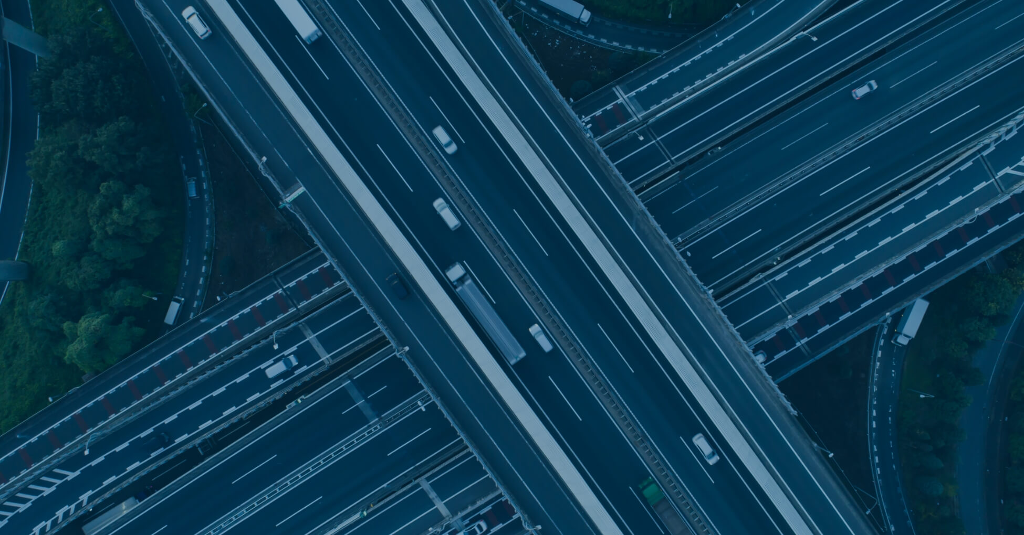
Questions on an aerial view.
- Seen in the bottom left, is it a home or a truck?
truck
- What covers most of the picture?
paved ground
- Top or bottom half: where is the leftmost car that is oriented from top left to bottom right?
top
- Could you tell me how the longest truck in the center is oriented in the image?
diagonally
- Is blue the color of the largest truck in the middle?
Yes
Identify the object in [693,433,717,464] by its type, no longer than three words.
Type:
car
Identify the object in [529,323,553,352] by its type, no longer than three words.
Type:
car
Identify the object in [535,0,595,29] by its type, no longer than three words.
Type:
truck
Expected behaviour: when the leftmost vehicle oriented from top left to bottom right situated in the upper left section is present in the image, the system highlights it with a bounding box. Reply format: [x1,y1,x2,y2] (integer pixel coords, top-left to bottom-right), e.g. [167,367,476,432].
[184,8,212,40]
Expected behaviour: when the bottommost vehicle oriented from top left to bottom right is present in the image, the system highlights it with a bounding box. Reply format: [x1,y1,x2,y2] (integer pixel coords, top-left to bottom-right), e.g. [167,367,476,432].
[636,473,691,535]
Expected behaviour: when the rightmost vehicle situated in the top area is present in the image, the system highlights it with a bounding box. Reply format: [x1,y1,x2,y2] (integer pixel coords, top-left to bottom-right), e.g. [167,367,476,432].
[849,80,877,101]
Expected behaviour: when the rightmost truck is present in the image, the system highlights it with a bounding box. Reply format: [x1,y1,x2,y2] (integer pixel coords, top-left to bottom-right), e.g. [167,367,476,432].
[888,299,929,349]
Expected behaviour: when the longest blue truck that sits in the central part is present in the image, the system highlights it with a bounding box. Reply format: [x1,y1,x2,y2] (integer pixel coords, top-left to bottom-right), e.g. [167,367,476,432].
[443,262,526,365]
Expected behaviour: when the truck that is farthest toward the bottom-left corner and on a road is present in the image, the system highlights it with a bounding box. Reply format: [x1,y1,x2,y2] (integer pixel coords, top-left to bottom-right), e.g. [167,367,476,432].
[82,482,161,535]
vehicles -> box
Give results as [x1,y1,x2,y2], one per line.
[275,0,329,53]
[849,80,877,101]
[265,353,299,379]
[693,433,717,464]
[443,262,526,365]
[163,296,184,325]
[82,482,161,535]
[888,299,929,349]
[433,124,458,155]
[184,8,212,40]
[535,0,595,29]
[143,432,171,454]
[529,323,553,352]
[185,175,201,199]
[434,198,461,230]
[636,473,691,535]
